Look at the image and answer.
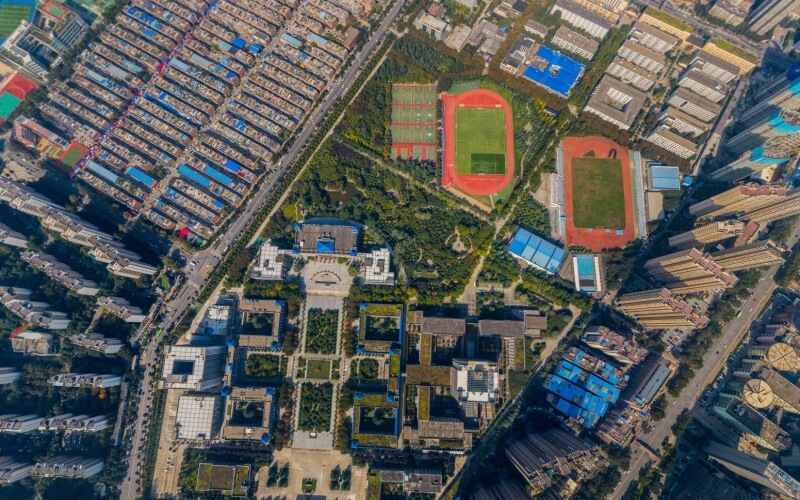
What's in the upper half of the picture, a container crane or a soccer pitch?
soccer pitch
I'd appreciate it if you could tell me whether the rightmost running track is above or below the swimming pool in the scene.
above it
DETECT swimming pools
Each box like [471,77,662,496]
[573,256,604,292]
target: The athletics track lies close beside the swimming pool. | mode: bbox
[563,135,634,252]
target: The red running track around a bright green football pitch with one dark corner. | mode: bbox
[442,89,514,195]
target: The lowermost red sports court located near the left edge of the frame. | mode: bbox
[0,73,37,98]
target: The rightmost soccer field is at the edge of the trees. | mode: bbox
[572,157,626,229]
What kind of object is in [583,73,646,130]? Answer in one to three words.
building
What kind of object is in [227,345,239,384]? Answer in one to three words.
building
